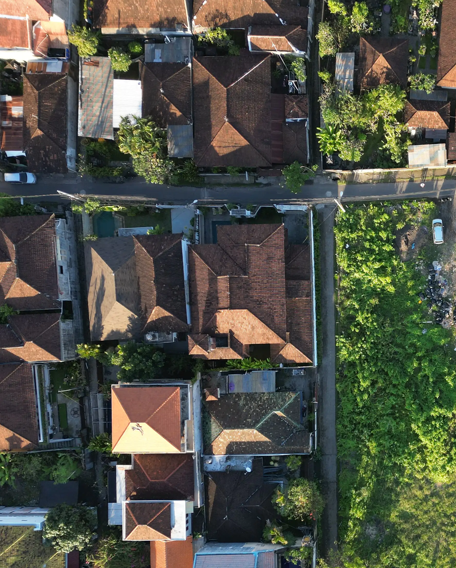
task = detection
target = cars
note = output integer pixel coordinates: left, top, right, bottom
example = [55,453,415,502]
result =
[432,217,444,243]
[2,170,35,183]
